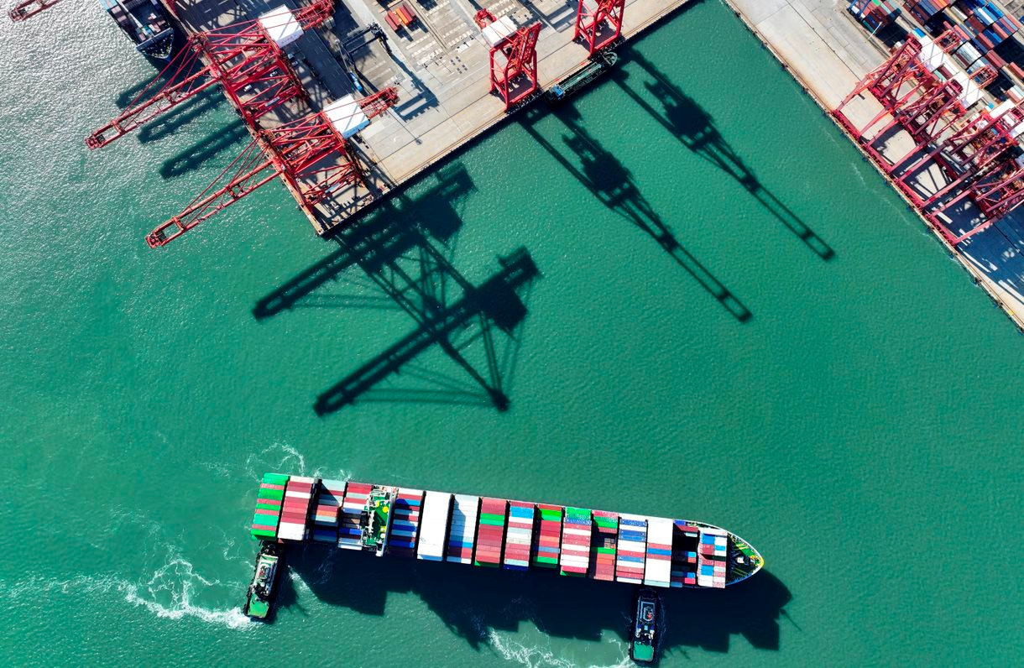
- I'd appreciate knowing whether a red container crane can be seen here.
Yes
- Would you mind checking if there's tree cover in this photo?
No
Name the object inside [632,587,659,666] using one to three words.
boat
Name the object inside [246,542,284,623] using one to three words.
boat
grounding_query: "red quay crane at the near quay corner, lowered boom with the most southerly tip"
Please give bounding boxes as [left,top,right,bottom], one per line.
[139,80,405,254]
